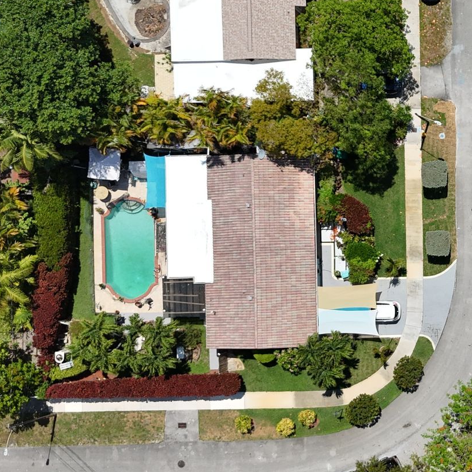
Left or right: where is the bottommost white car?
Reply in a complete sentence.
The bottommost white car is on the right side of the image.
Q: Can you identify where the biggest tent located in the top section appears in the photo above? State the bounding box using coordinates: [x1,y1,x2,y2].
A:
[88,147,131,183]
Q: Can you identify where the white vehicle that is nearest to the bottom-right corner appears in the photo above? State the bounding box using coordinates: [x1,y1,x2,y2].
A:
[372,301,405,324]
